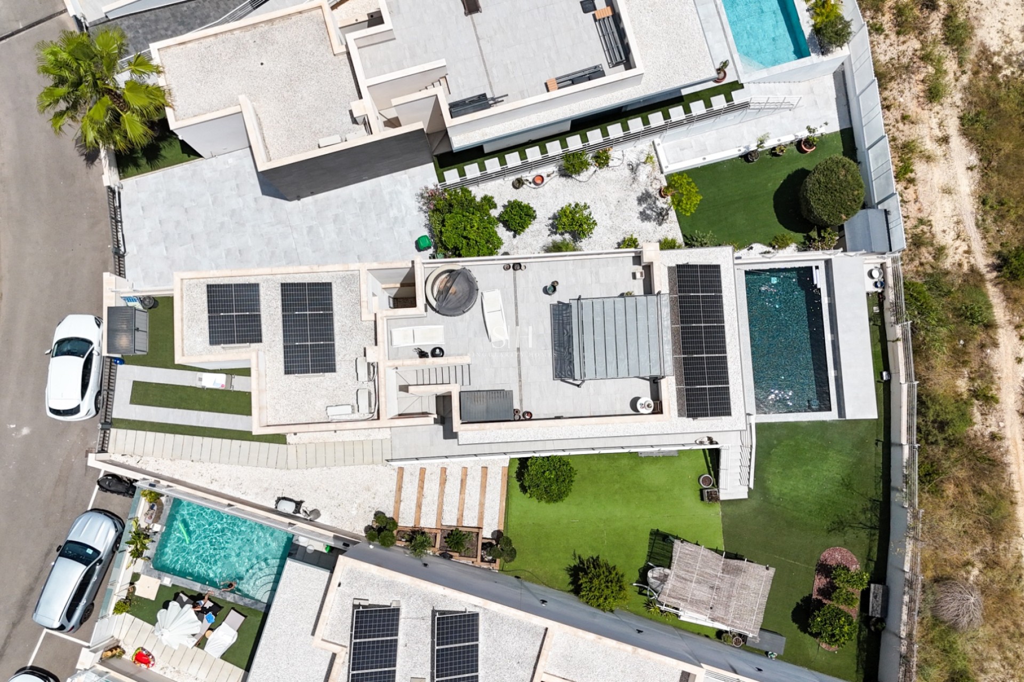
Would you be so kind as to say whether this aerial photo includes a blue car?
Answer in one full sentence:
No, there isn't any blue car down there.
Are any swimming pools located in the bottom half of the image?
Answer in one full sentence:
Yes, I can see a swimming pool in the bottom half of the image.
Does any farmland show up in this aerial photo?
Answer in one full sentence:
No, there is no farmland in the image.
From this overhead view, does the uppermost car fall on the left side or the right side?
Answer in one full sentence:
The uppermost car appears in the left half of the scene.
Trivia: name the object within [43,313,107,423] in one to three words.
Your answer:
car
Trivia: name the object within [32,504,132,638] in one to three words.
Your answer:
car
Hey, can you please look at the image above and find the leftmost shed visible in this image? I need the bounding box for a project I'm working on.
[107,307,152,356]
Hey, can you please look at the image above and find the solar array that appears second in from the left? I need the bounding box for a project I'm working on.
[281,279,336,382]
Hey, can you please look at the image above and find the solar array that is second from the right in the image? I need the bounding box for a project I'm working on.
[435,609,479,682]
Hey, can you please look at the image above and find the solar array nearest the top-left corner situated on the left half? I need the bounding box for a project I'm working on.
[207,280,262,353]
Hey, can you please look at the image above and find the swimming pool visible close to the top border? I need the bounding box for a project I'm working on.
[720,0,851,85]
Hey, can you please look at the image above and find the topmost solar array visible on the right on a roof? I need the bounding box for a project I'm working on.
[673,257,731,425]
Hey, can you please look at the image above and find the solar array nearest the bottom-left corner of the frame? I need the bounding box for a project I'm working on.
[349,597,401,682]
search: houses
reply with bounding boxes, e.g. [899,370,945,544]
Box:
[250,528,835,682]
[174,242,747,445]
[149,0,718,200]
